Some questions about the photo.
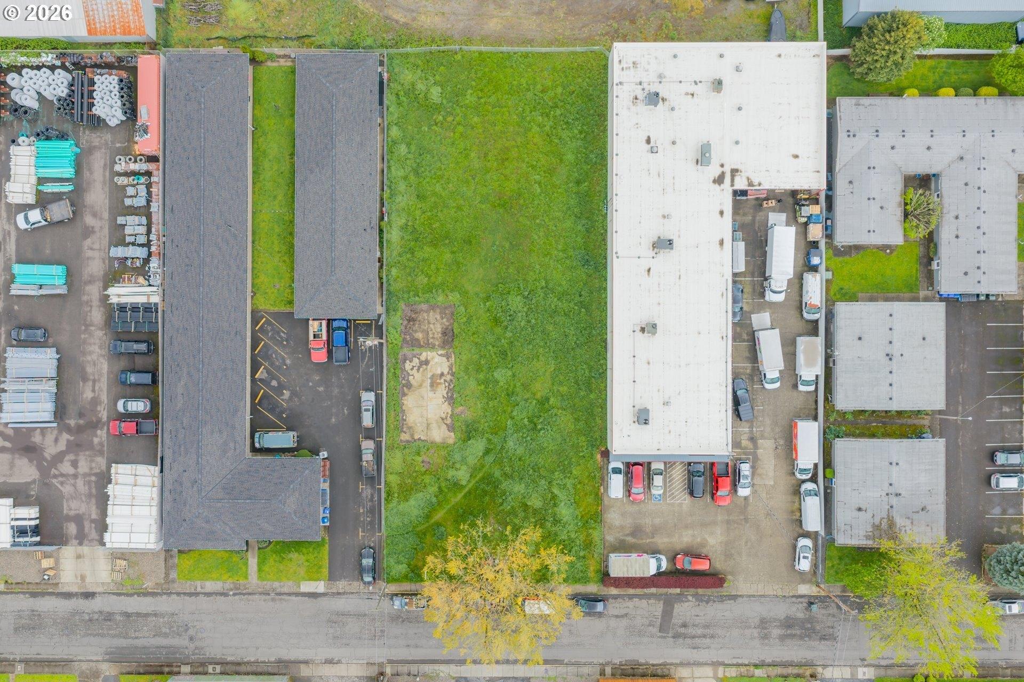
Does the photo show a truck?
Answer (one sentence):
Yes, there's a truck down there.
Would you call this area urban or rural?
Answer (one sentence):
The area is urban.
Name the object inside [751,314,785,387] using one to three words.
truck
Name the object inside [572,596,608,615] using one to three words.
car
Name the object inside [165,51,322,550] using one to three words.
building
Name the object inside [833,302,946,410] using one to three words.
building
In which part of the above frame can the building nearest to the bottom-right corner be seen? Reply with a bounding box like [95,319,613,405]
[833,439,946,547]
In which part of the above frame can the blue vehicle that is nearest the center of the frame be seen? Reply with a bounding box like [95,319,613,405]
[330,319,350,365]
